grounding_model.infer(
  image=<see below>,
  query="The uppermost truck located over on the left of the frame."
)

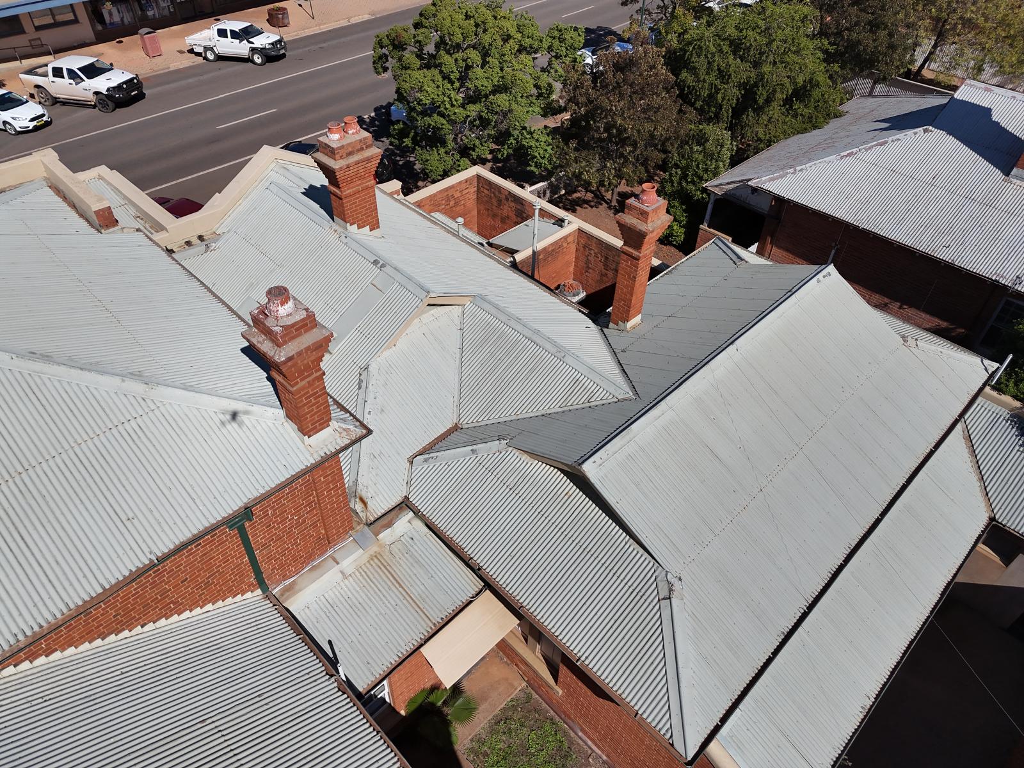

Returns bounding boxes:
[184,23,281,65]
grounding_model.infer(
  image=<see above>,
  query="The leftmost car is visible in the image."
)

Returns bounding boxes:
[0,89,51,130]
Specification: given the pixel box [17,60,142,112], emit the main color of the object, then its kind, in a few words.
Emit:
white truck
